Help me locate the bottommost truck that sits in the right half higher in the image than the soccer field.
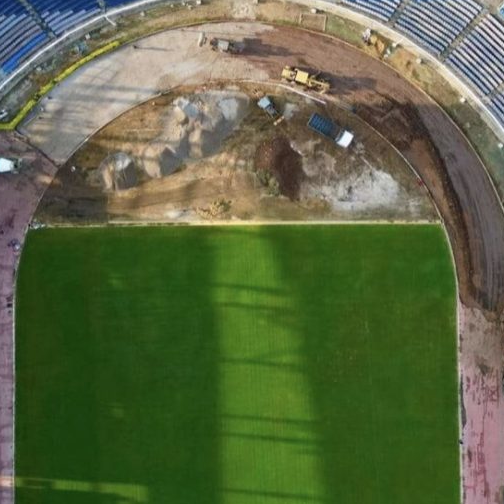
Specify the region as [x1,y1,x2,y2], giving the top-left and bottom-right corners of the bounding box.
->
[306,112,355,149]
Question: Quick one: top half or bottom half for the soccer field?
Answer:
bottom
